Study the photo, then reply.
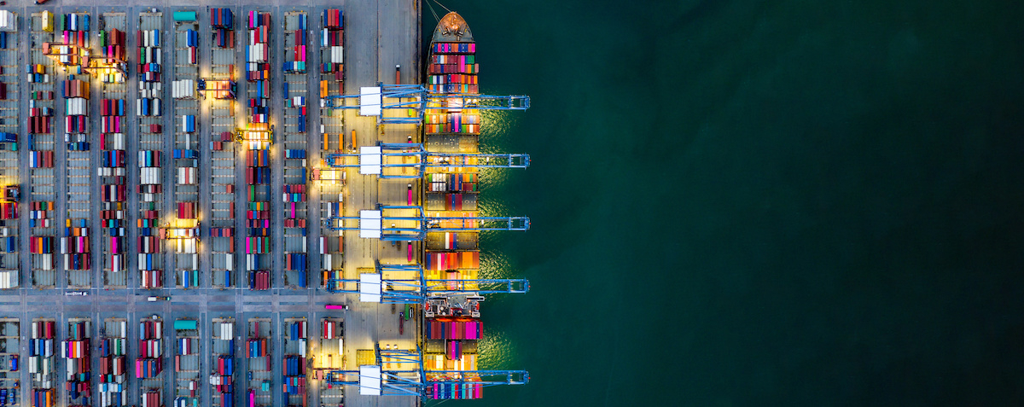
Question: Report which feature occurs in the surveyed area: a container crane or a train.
container crane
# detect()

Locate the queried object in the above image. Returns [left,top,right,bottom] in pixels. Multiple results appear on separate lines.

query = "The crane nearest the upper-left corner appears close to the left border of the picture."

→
[42,41,92,62]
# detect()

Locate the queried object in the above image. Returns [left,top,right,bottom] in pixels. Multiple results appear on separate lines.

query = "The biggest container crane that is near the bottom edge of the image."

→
[325,339,530,397]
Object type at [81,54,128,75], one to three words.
container crane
